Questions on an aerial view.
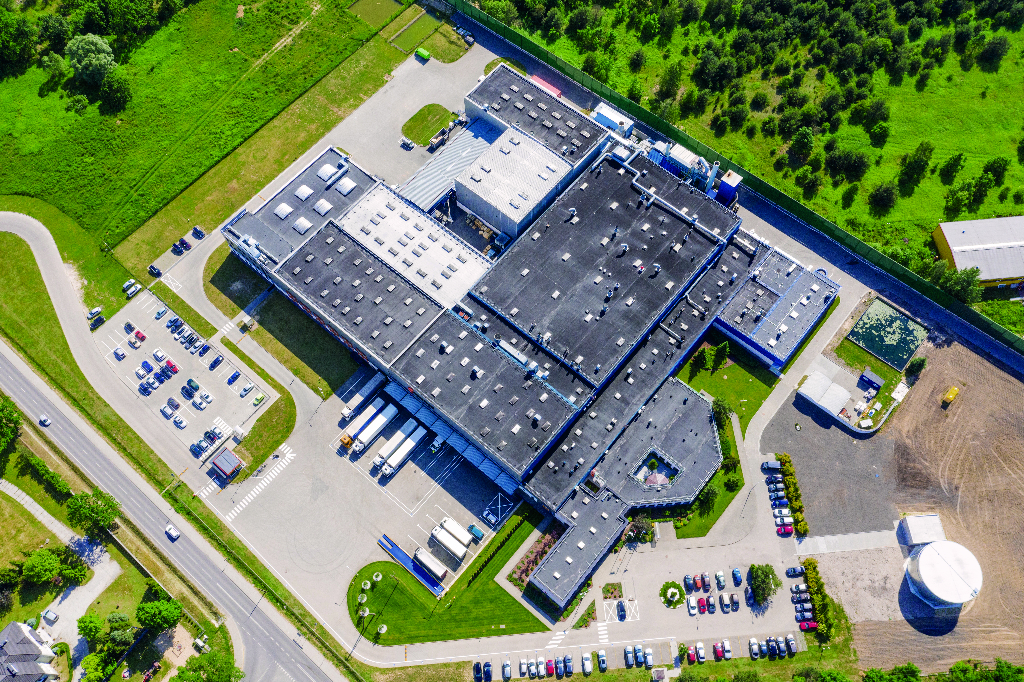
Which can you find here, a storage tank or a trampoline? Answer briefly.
storage tank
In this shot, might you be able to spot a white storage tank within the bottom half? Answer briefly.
Yes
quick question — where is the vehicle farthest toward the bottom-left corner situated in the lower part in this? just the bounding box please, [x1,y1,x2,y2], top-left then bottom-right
[43,609,60,622]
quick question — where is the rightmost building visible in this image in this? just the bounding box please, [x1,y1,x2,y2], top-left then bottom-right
[932,217,1024,280]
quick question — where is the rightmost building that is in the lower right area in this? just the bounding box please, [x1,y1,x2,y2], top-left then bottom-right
[900,514,947,549]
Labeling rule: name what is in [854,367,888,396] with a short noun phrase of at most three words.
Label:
building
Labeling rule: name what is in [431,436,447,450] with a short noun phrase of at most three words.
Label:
vehicle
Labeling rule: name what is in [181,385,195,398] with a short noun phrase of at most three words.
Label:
vehicle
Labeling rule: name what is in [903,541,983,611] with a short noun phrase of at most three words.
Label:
storage tank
